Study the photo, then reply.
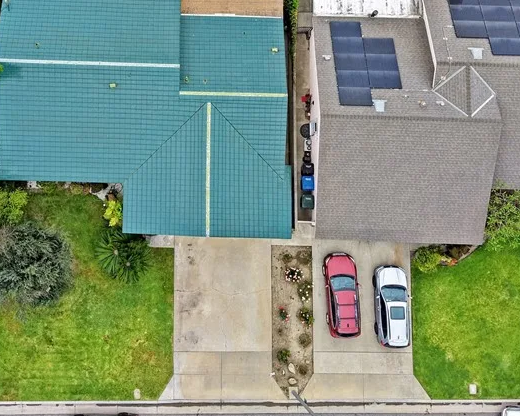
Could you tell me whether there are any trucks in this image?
No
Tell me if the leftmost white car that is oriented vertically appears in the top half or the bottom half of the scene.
bottom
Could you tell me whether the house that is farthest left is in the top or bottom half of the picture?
top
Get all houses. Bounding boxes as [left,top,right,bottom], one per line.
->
[308,0,520,245]
[0,0,292,239]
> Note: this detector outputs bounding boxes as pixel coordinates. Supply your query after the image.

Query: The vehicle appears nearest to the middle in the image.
[322,252,362,340]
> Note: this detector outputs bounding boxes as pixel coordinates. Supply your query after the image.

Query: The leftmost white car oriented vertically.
[372,264,413,350]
